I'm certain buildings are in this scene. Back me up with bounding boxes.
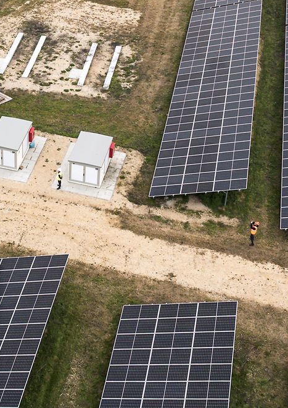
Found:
[0,110,36,170]
[66,123,118,187]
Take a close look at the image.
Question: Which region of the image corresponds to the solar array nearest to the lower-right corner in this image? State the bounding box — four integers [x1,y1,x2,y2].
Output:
[99,301,237,408]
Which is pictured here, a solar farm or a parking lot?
solar farm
